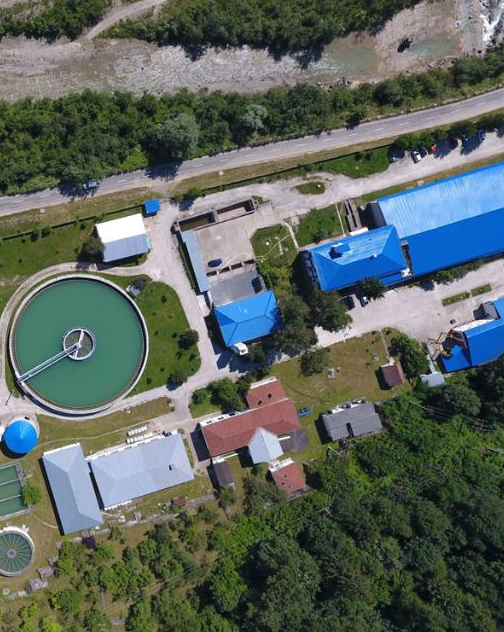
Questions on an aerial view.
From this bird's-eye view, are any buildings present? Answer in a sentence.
Yes, a building appears in the view.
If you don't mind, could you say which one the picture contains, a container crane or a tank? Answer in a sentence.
The one in the frame is a tank.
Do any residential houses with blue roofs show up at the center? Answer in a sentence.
Yes, a residential house with a blue roof shows up at the center.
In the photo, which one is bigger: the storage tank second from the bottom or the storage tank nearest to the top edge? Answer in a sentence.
The storage tank nearest to the top edge is bigger than the storage tank second from the bottom.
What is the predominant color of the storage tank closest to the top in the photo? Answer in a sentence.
The storage tank closest to the top is green.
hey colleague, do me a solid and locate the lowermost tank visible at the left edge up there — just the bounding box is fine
[0,526,34,575]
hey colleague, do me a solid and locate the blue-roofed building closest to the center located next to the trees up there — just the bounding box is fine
[211,291,283,347]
